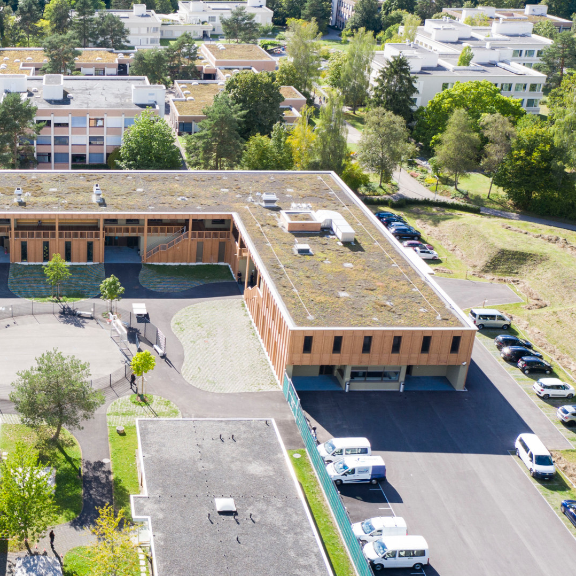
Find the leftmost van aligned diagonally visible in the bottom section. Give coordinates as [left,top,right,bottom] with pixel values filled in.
[508,435,562,480]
